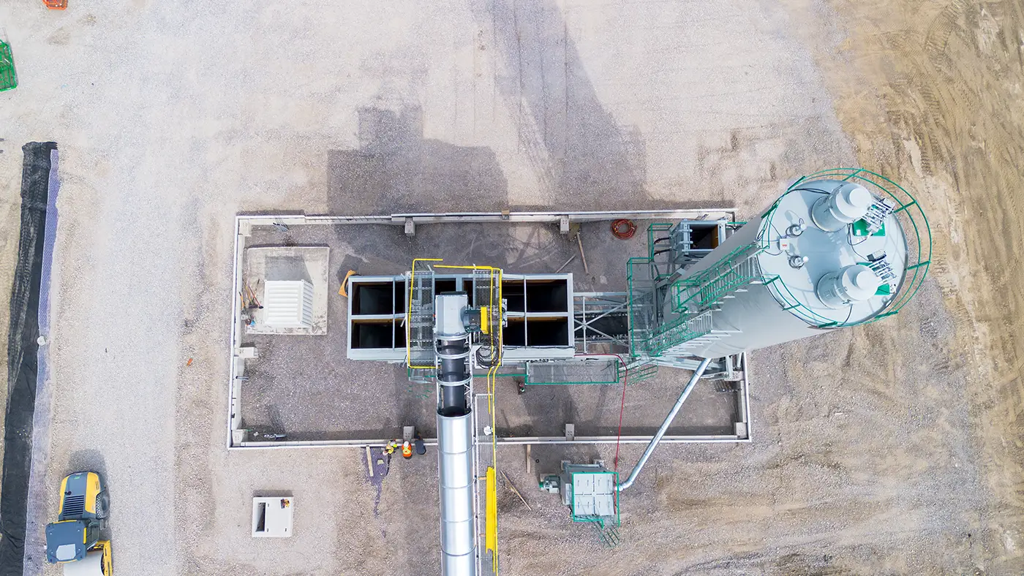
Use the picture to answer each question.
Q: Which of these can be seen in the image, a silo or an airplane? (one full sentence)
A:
The image shows a silo.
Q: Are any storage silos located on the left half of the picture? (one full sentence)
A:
No, there is no storage silo on the left half of the picture.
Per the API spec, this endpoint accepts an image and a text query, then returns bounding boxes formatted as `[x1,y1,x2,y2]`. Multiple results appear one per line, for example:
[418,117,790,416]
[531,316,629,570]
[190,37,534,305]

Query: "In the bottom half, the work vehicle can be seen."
[42,465,117,576]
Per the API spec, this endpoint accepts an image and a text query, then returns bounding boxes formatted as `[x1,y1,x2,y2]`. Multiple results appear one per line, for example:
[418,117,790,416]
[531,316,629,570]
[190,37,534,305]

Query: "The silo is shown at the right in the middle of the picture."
[624,169,929,381]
